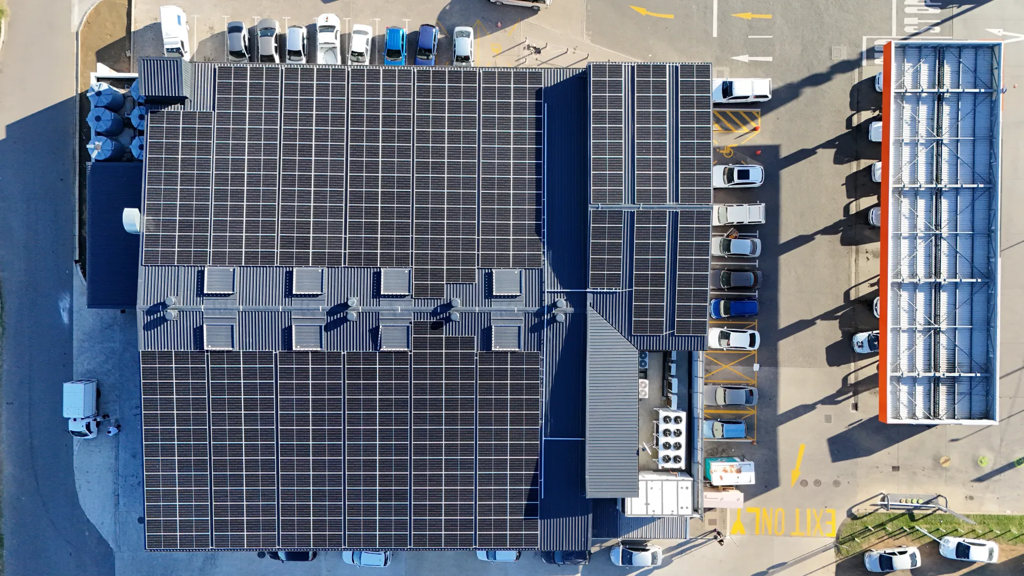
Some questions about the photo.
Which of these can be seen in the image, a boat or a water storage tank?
water storage tank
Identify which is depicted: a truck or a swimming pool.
truck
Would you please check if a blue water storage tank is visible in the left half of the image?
Yes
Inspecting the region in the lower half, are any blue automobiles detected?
Yes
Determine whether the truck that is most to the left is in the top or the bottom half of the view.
bottom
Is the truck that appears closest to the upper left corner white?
Yes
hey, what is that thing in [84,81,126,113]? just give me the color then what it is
blue water tank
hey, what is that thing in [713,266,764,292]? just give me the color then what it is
black car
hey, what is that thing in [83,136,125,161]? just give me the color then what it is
blue water tank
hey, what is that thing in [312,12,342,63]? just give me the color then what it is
white truck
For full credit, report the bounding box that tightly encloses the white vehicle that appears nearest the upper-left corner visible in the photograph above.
[160,3,197,63]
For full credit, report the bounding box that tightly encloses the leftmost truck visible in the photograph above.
[63,378,107,439]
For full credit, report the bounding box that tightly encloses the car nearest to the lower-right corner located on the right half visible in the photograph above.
[936,533,999,564]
